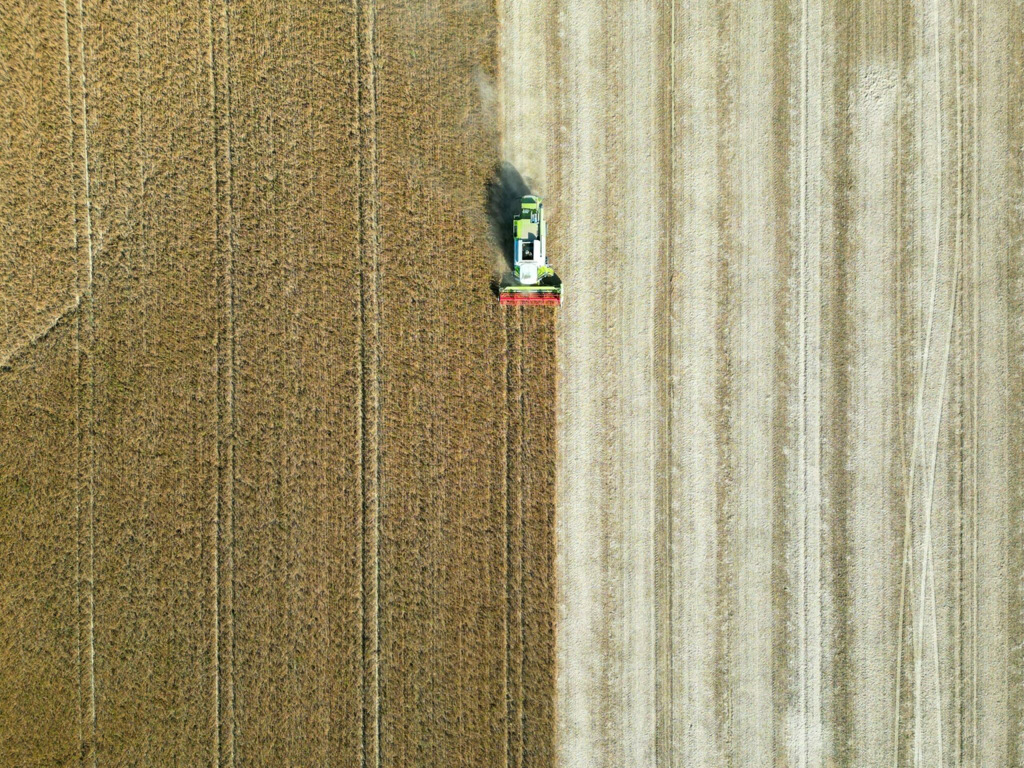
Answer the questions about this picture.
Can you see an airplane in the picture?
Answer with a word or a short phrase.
No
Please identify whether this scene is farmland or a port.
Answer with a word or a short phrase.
farmland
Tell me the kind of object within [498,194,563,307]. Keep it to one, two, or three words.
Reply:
work vehicle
